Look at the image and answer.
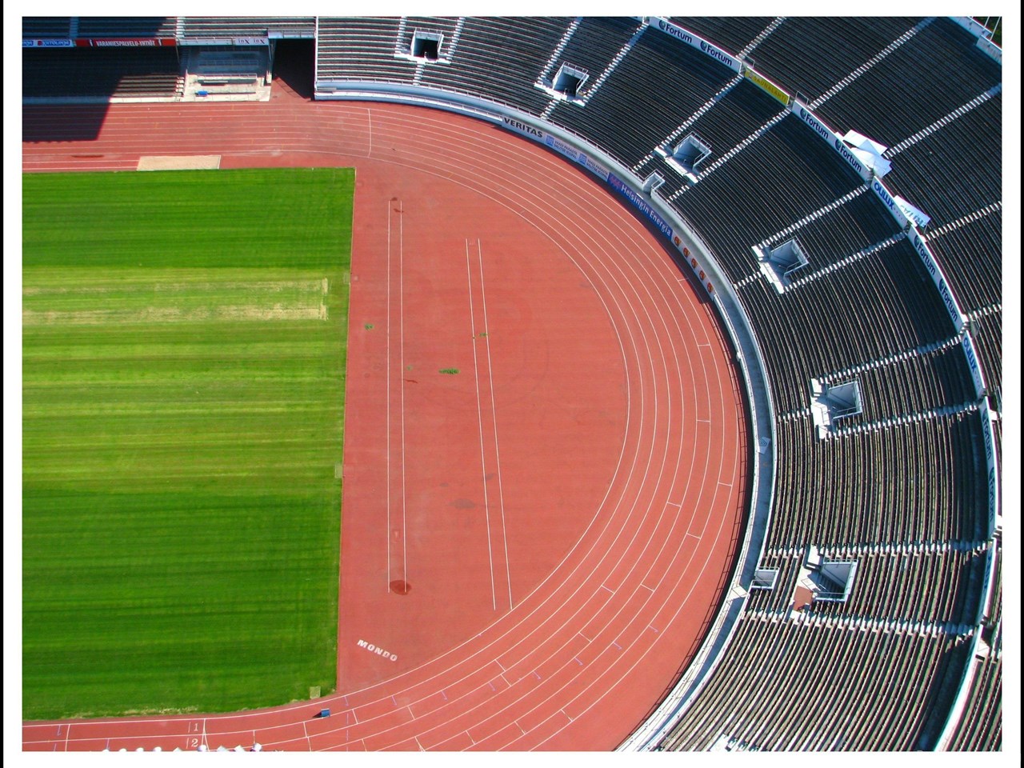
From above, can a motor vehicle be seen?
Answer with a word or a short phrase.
No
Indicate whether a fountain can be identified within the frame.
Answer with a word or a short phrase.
No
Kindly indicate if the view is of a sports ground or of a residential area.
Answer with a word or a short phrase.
sports ground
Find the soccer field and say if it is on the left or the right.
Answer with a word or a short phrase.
left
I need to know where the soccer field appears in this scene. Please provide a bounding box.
[0,168,356,724]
